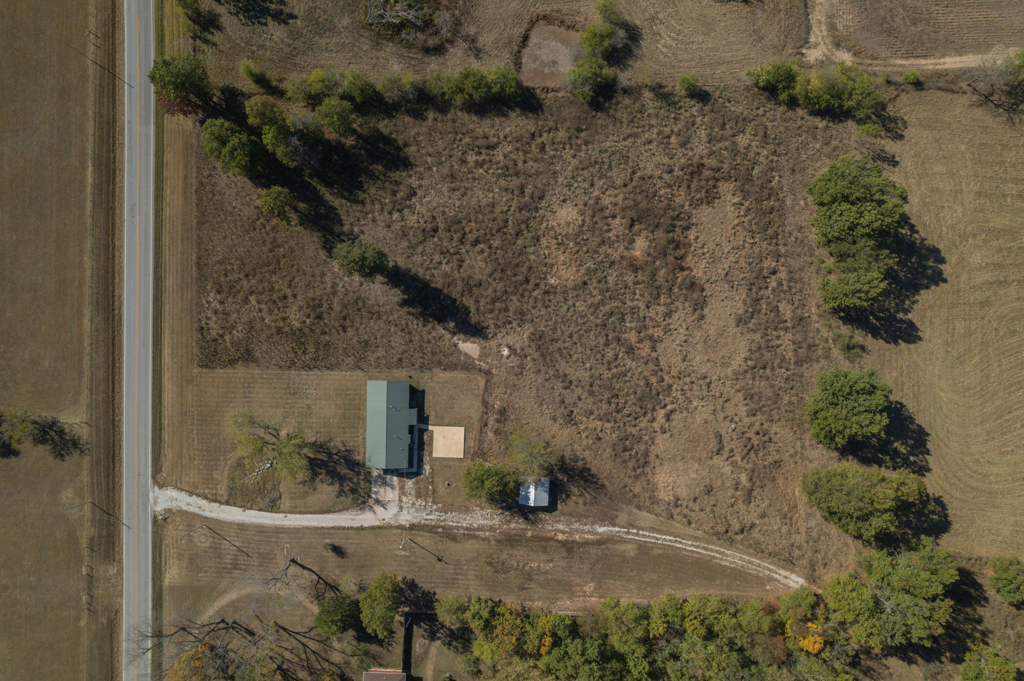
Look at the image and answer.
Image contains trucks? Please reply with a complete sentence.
No, there appears to be no truck in this shot.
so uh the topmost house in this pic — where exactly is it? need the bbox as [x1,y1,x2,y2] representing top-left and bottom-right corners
[366,380,419,470]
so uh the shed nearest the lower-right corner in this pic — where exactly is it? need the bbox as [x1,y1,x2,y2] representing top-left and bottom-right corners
[520,476,549,508]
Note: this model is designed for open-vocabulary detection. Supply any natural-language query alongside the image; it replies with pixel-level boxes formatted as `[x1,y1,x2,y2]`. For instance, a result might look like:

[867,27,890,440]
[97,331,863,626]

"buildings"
[363,666,407,681]
[366,380,419,470]
[520,476,549,508]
